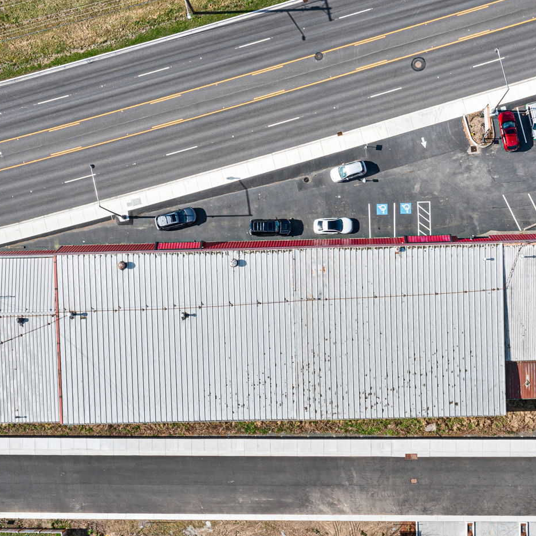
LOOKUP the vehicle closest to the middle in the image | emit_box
[249,218,290,236]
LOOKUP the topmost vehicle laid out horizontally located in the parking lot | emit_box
[330,159,366,181]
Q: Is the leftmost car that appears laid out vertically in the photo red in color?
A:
Yes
